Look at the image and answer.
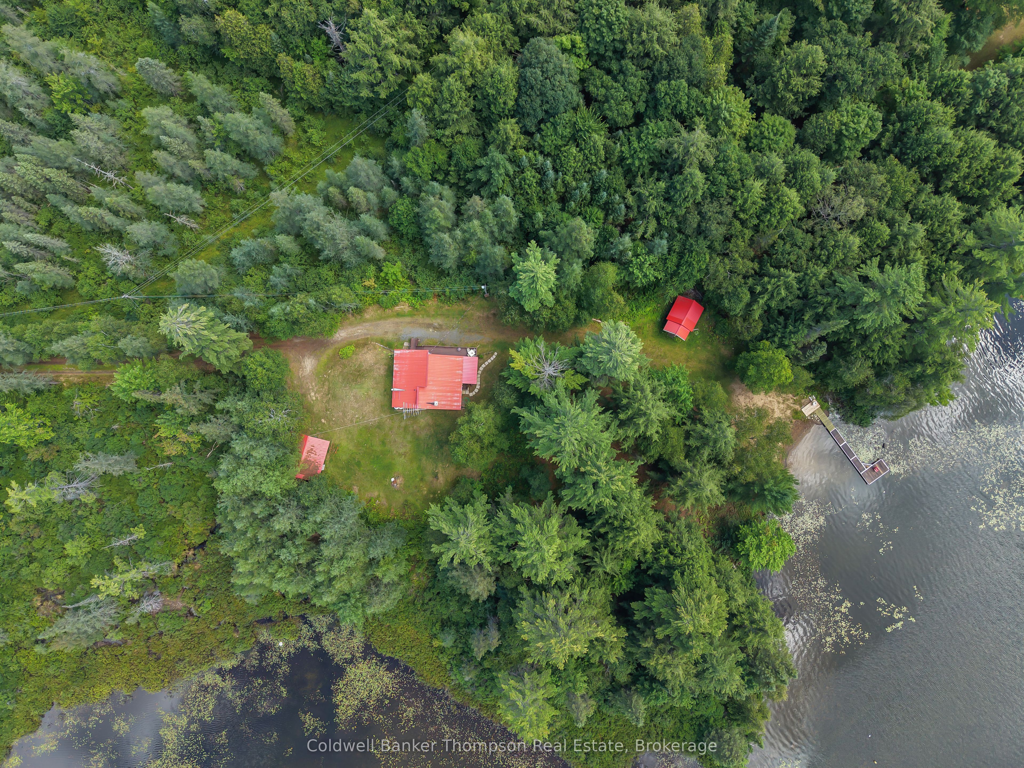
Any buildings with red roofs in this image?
Yes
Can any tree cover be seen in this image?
Yes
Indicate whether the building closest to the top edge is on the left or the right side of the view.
right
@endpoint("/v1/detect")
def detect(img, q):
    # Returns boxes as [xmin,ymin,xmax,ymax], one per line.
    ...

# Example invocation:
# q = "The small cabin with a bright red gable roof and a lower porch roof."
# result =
[661,297,704,341]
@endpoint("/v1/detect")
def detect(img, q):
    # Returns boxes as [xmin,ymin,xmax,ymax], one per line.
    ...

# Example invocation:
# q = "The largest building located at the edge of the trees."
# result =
[391,349,478,410]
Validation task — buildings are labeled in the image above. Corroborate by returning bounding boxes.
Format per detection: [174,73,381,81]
[661,297,704,341]
[391,349,478,410]
[293,436,331,483]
